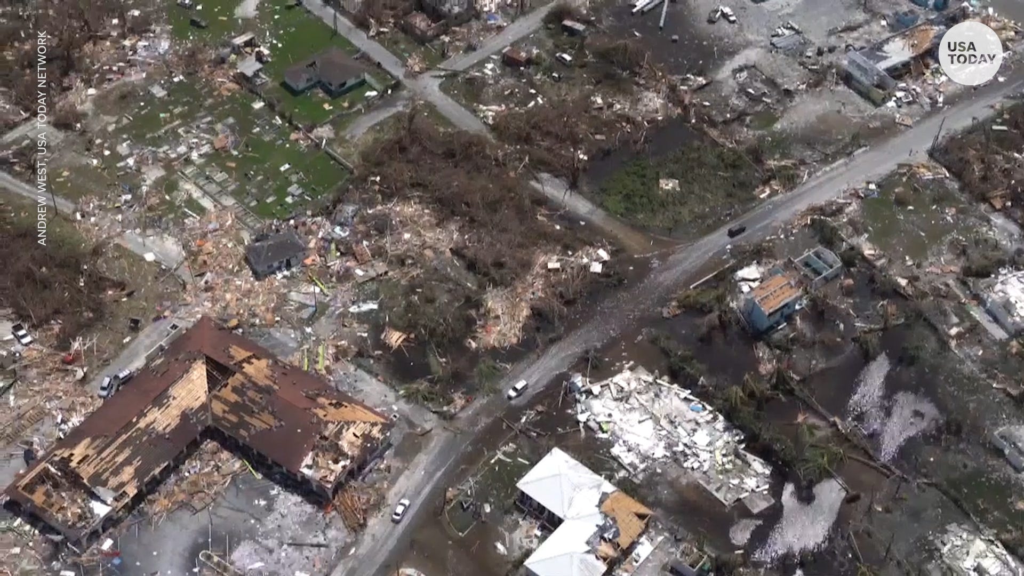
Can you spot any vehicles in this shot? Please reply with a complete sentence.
Yes, there's a vehicle down there.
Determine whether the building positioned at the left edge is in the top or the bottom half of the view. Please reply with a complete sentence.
Seen from above, the building positioned at the left edge lies in the bottom half of the view.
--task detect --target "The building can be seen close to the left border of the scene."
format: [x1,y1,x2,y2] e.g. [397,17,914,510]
[4,316,395,554]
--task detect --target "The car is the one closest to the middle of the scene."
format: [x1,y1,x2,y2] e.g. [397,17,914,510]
[505,377,531,401]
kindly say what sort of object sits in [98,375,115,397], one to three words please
car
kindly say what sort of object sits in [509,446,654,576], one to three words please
building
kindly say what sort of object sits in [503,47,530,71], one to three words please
shed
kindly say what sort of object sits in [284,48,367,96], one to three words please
house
